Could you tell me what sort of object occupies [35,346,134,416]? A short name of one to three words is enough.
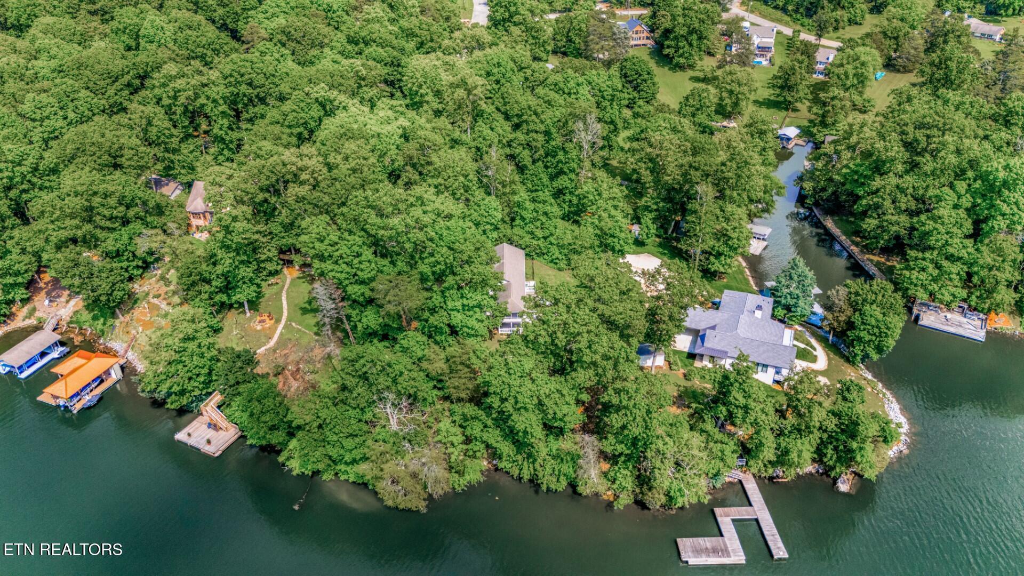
building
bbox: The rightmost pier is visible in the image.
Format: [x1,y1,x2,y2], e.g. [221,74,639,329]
[912,299,988,345]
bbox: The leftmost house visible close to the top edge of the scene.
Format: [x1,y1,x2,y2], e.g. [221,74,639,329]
[620,14,659,47]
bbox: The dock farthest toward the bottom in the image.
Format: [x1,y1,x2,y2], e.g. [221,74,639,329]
[677,471,790,567]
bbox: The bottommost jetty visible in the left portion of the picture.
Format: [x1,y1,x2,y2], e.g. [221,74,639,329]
[173,415,246,465]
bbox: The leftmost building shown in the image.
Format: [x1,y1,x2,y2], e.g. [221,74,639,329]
[0,330,75,380]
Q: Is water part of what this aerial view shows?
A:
Yes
